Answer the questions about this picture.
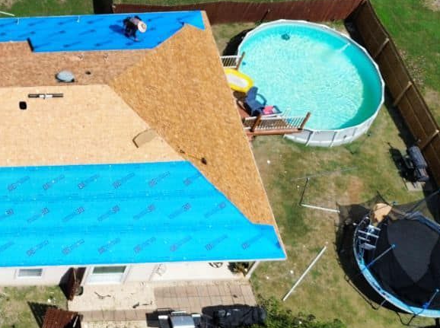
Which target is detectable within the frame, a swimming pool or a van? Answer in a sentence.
The image shows a swimming pool.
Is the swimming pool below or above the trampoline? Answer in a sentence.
In the image, the swimming pool sits above the trampoline.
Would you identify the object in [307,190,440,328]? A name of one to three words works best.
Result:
trampoline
